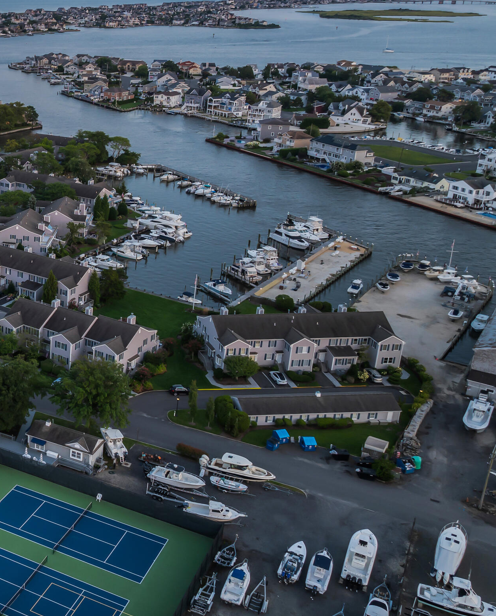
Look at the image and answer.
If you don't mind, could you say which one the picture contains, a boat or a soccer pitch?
boat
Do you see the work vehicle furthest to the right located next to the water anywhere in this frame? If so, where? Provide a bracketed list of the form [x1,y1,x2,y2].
[446,282,483,301]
